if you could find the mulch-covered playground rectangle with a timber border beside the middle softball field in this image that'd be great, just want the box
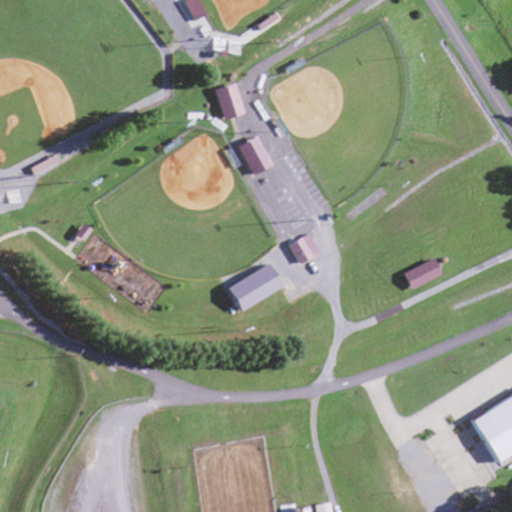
[76,234,163,314]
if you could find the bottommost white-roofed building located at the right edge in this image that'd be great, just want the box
[470,393,512,466]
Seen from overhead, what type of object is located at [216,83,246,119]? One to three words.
building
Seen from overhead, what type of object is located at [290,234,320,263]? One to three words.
building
